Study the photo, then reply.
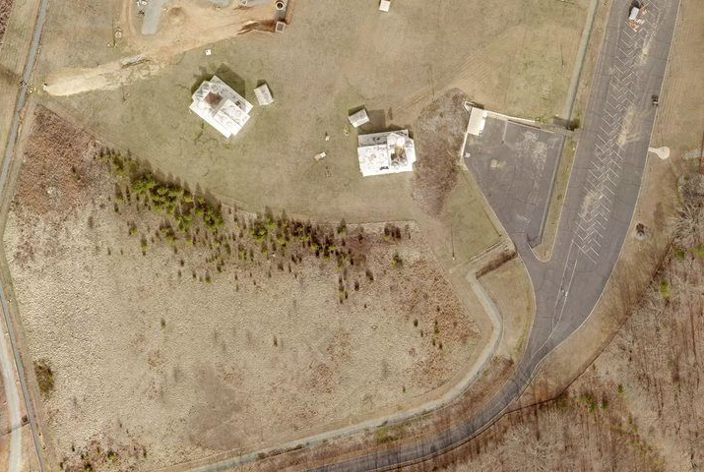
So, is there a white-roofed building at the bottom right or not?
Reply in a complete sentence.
No, there is no white-roofed building at the bottom right.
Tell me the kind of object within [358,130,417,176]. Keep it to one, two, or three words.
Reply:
house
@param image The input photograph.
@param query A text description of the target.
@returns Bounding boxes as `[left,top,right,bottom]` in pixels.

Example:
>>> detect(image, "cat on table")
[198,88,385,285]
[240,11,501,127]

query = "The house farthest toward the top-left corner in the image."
[189,75,253,138]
